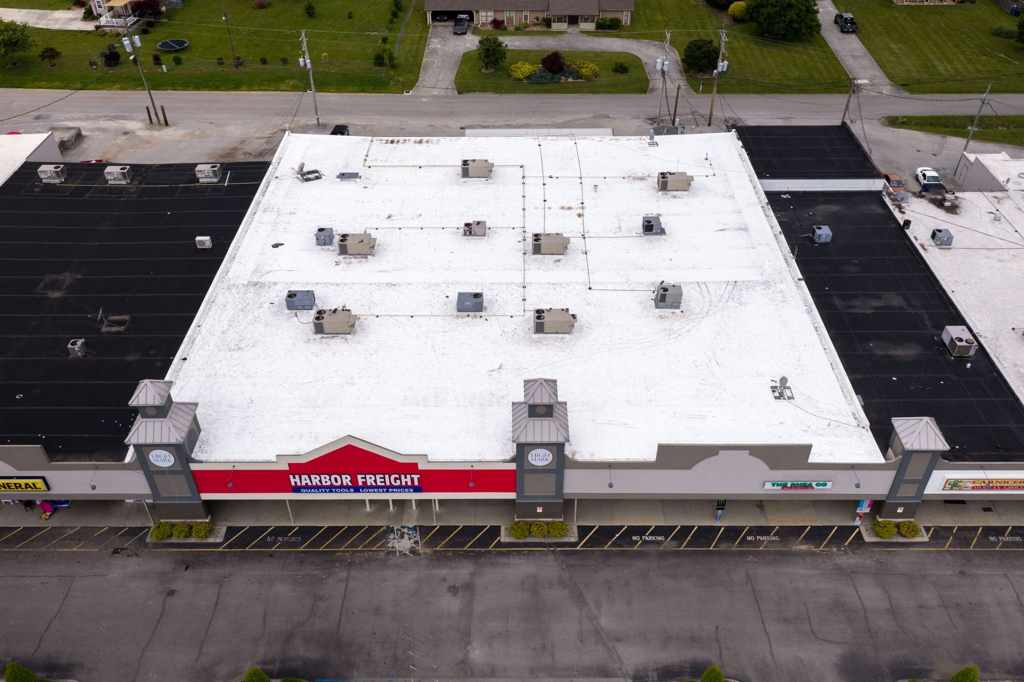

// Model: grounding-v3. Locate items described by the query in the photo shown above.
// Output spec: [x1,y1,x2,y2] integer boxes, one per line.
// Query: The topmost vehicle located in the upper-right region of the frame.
[836,10,864,30]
